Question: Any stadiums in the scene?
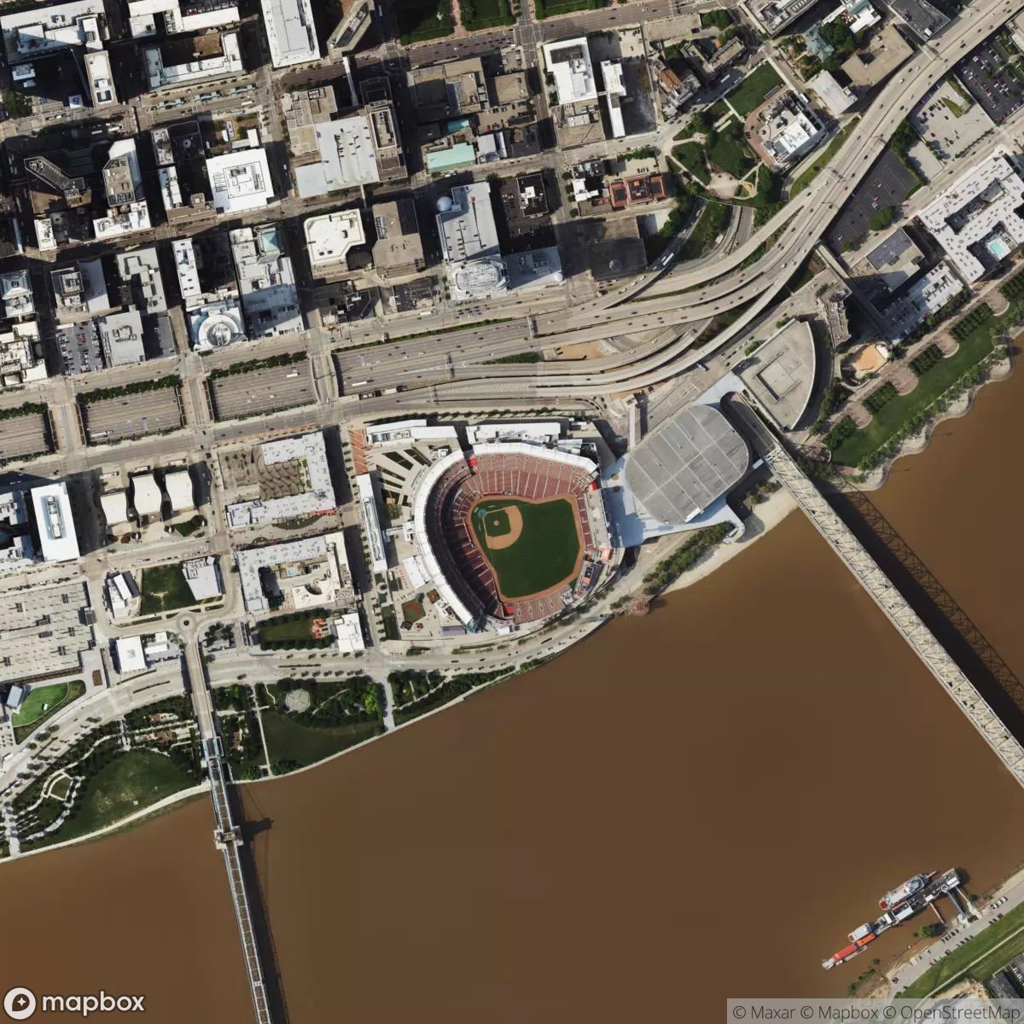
Yes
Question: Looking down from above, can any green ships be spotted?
No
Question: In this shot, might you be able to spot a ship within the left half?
No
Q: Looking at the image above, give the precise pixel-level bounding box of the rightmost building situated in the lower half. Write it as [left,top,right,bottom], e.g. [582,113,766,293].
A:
[990,972,1024,1023]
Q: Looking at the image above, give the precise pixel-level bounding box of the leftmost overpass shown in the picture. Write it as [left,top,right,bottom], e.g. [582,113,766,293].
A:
[48,390,87,454]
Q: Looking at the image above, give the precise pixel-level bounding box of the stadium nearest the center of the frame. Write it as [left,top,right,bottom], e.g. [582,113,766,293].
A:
[415,440,614,635]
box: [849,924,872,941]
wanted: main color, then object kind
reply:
white boat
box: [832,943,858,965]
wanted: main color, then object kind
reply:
red ship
